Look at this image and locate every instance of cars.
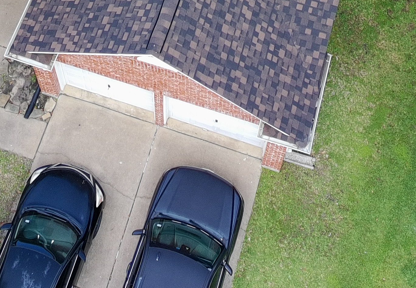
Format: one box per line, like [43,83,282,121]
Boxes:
[125,155,242,288]
[0,159,107,288]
